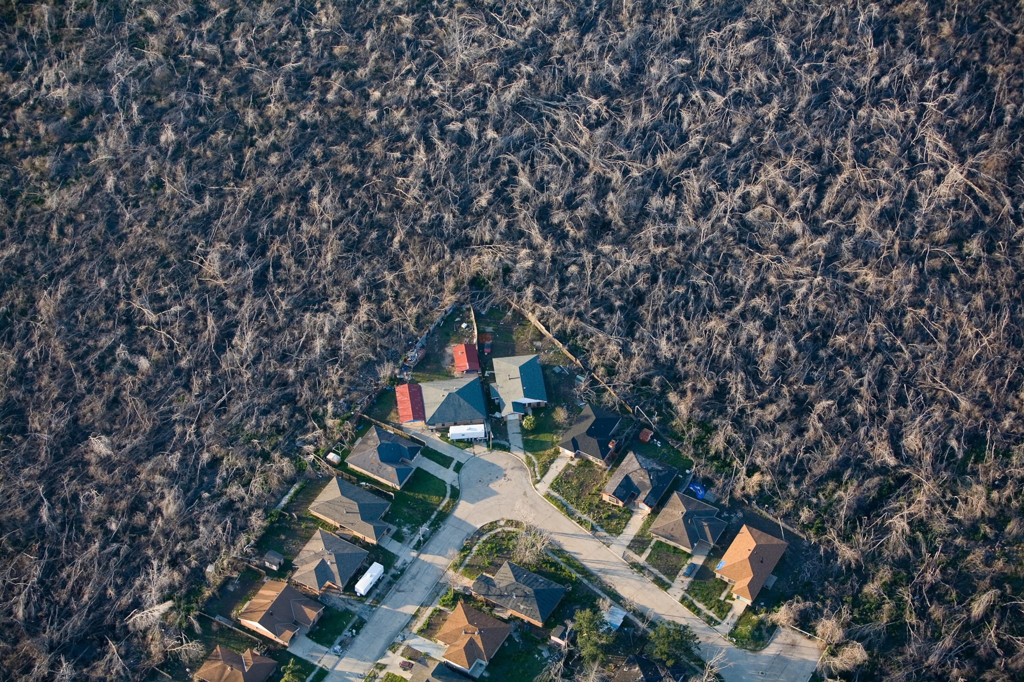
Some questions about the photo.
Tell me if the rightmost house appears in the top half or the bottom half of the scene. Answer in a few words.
bottom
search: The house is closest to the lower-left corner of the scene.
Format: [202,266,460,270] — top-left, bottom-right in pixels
[196,645,277,682]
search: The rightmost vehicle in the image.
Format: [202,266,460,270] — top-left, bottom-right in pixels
[682,561,698,578]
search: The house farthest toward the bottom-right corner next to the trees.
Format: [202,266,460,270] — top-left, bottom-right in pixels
[714,524,788,607]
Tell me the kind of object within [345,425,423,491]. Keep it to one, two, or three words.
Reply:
house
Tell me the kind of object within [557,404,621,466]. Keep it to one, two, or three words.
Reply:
house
